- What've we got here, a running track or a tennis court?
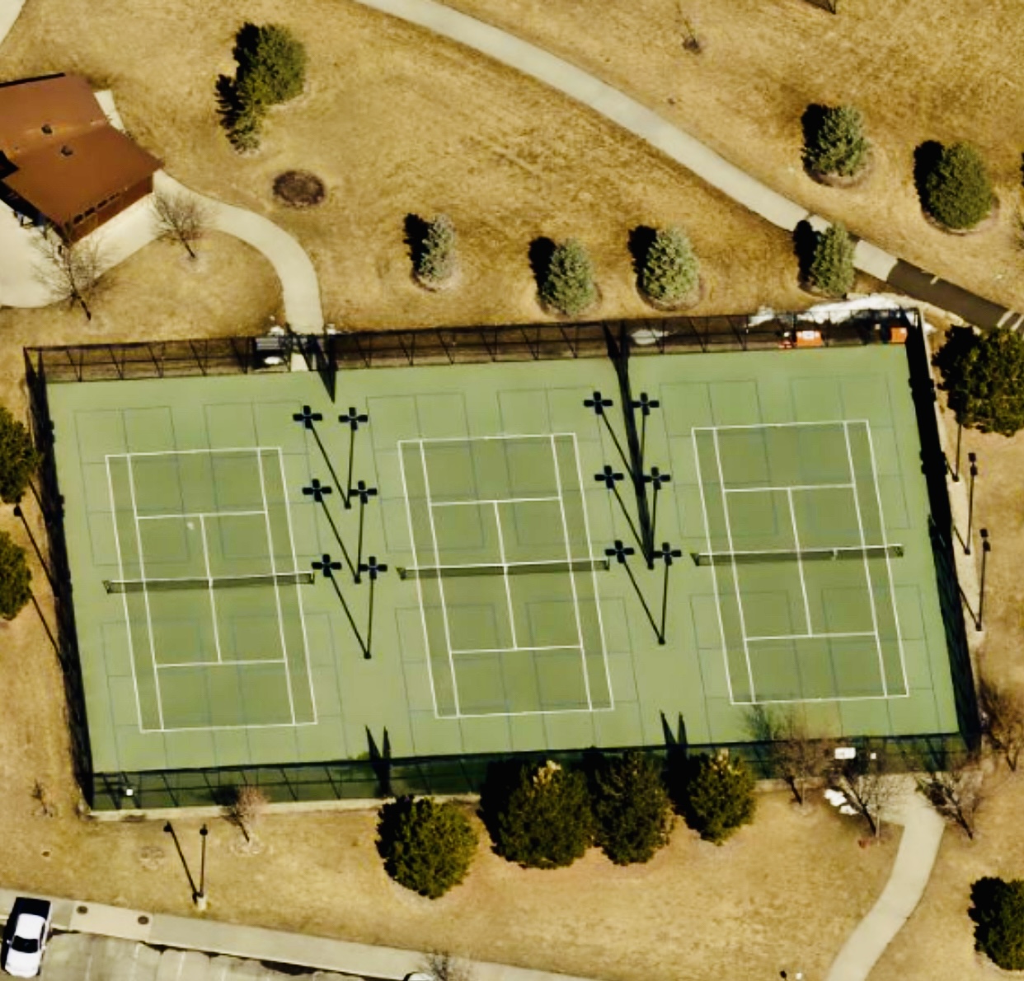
tennis court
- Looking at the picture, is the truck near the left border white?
Yes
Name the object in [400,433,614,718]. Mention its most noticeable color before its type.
green tennis court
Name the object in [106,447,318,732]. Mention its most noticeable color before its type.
green tennis court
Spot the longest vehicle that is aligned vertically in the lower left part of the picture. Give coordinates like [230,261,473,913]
[7,897,51,980]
